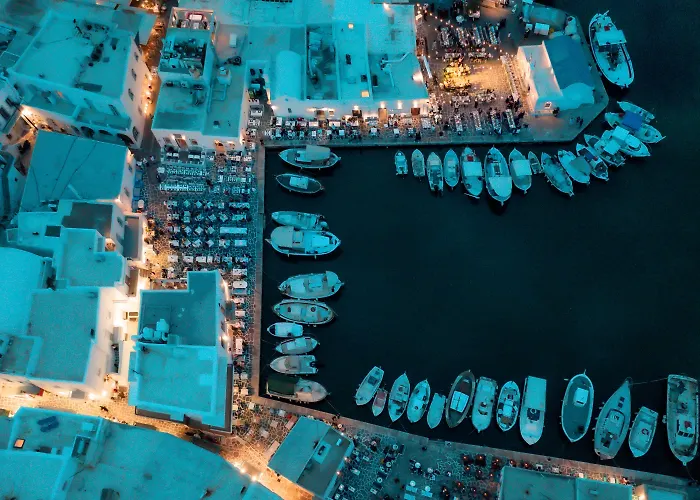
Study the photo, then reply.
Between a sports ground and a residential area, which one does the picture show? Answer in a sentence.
What you see here is a residential area.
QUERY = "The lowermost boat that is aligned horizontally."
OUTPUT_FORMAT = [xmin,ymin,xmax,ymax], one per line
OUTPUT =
[265,377,340,415]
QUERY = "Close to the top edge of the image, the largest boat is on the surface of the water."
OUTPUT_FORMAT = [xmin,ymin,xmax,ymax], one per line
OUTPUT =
[591,10,637,92]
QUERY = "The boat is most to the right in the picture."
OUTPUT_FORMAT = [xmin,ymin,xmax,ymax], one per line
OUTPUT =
[663,373,700,484]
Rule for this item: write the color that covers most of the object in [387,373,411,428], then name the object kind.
blue boat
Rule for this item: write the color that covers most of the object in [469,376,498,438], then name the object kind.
blue boat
